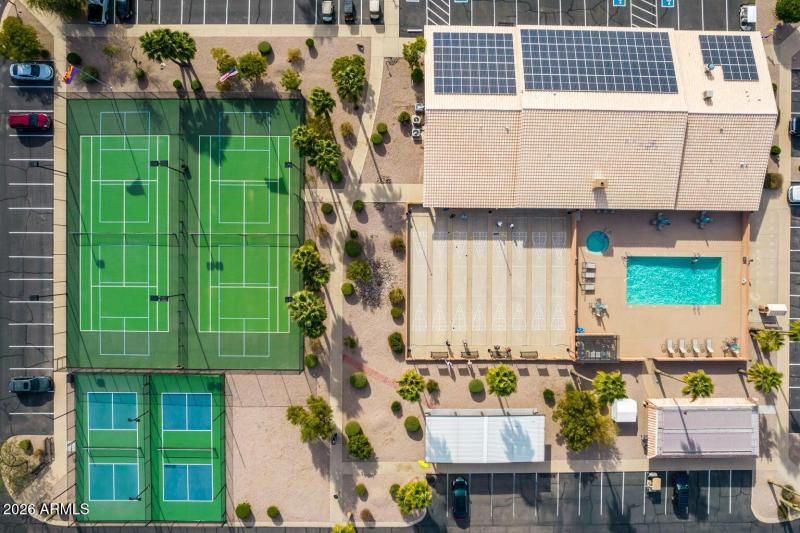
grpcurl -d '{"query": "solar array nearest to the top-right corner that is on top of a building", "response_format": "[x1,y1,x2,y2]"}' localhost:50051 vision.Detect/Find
[700,34,757,80]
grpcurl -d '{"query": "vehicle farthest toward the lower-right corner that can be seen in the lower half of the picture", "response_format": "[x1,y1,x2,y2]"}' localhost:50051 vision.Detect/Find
[670,471,691,516]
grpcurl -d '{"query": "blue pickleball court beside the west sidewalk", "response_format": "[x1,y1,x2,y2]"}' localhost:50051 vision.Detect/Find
[76,374,150,521]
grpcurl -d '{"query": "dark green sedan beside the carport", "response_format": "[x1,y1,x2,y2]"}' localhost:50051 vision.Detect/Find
[452,476,470,517]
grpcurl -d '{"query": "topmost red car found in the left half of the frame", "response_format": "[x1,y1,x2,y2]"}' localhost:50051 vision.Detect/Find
[11,113,52,131]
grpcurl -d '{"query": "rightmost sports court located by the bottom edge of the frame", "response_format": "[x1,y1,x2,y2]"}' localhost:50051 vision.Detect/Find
[151,374,225,521]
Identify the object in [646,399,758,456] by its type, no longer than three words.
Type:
building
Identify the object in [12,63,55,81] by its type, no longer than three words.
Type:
car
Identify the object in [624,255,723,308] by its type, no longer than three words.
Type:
swimming pool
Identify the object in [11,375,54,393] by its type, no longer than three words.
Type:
car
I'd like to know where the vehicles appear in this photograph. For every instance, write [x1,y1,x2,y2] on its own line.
[738,5,757,31]
[788,119,800,134]
[91,0,110,22]
[370,0,380,19]
[645,471,661,493]
[322,0,334,20]
[343,1,354,22]
[670,471,691,516]
[11,113,52,131]
[116,0,135,22]
[12,63,55,81]
[785,187,800,202]
[452,476,470,517]
[11,375,54,393]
